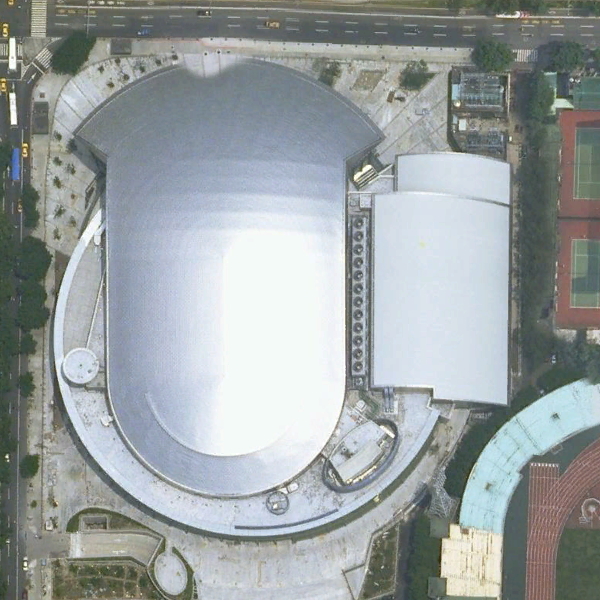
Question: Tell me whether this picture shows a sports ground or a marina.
sports ground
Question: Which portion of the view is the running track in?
bottom right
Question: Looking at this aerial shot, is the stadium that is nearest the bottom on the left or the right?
right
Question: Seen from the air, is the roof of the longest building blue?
No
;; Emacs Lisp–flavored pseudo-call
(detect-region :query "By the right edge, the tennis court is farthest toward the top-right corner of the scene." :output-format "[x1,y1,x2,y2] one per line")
[574,77,600,109]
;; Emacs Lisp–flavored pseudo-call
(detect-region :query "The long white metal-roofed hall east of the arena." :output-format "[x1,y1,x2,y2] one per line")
[371,152,511,419]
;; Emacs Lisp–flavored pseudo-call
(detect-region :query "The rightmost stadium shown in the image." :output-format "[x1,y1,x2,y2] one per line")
[441,375,600,600]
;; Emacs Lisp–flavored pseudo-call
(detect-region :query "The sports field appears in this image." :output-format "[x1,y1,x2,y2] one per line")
[558,478,600,600]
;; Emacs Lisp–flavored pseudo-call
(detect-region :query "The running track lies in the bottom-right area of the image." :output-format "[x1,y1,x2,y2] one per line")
[526,439,600,600]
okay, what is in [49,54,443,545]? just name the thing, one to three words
stadium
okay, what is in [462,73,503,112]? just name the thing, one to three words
house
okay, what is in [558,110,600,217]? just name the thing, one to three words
tennis court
